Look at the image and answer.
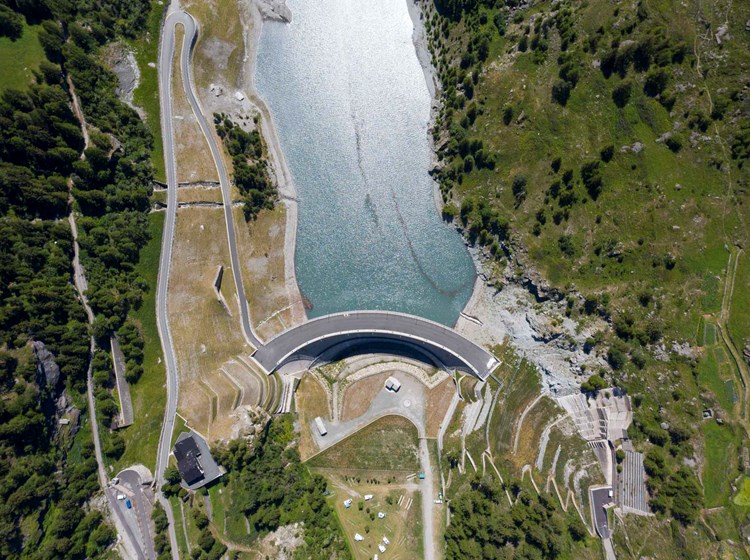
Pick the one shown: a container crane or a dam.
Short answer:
dam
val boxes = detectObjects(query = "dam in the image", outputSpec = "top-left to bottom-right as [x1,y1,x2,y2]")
[253,309,502,389]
